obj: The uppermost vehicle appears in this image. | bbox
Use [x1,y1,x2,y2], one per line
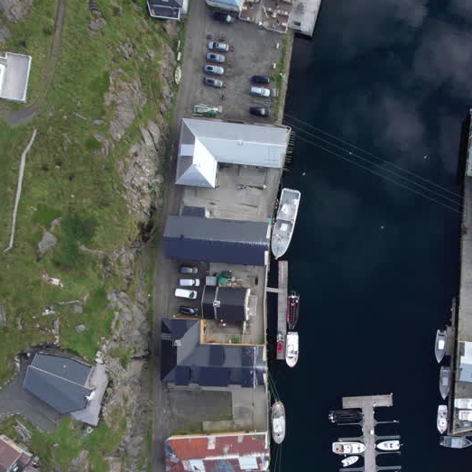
[211,10,235,23]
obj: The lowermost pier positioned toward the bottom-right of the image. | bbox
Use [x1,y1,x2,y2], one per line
[336,394,403,472]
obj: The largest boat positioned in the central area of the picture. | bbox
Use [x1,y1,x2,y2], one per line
[273,186,299,257]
